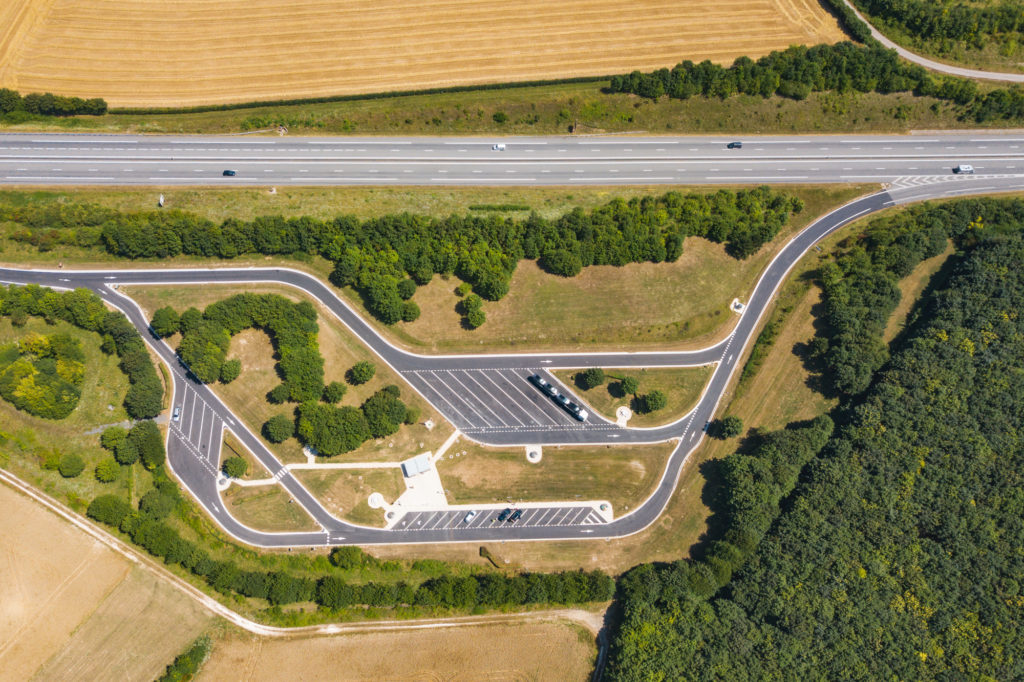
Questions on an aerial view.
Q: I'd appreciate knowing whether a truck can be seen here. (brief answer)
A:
Yes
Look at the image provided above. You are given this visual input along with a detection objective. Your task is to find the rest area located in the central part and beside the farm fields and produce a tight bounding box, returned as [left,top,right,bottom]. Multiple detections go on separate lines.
[0,189,894,548]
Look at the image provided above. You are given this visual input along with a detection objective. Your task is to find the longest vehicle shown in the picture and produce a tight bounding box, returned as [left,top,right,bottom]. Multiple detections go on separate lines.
[536,375,590,421]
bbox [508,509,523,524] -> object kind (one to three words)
car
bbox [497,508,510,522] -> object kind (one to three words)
vehicle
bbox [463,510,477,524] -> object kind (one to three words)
car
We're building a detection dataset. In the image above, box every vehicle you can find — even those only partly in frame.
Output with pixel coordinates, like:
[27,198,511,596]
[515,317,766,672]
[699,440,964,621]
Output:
[491,142,506,151]
[558,392,571,404]
[172,407,181,422]
[497,508,510,522]
[536,375,590,421]
[508,509,523,524]
[223,170,236,176]
[463,510,477,524]
[955,165,973,174]
[728,143,741,149]
[569,400,582,412]
[548,383,561,395]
